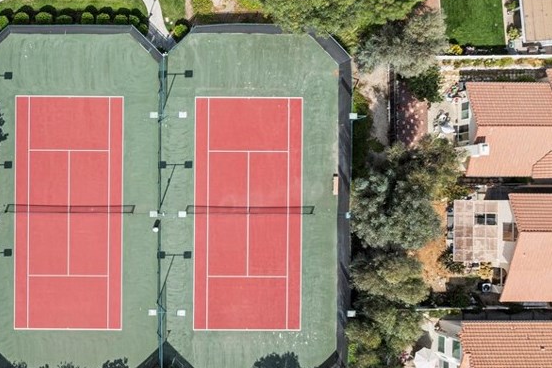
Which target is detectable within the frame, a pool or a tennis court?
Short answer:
tennis court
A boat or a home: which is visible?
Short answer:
home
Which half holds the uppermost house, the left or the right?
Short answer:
right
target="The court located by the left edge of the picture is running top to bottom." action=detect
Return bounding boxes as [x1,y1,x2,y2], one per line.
[0,35,161,368]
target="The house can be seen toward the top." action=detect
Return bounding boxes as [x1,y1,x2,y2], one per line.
[446,83,552,179]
